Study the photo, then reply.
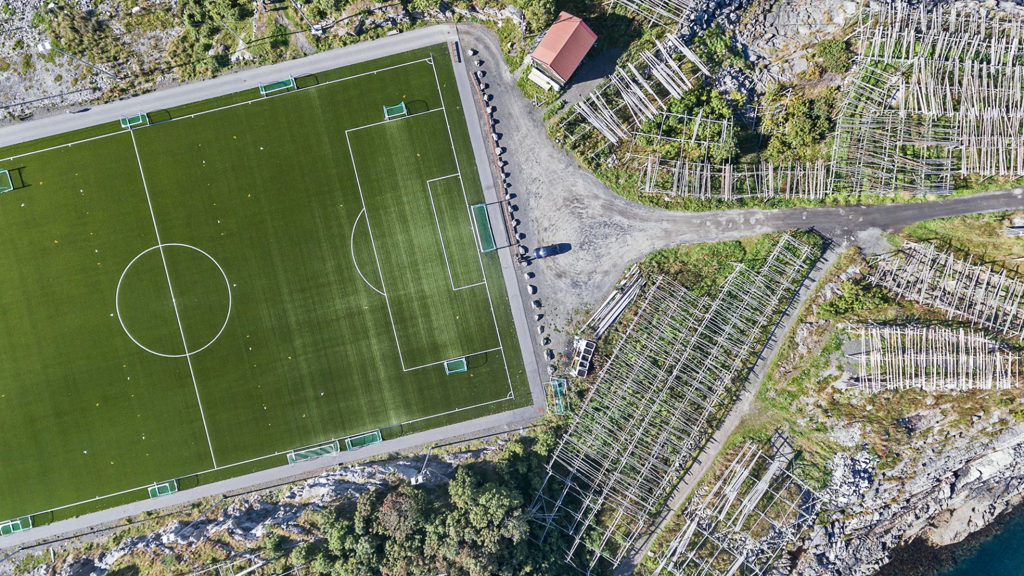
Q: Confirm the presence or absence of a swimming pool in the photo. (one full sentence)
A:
No, this view has no swimming pool in it.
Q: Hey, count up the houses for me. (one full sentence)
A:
The picture shows just 1 house.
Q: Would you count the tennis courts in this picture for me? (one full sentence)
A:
No tennis courts are visible.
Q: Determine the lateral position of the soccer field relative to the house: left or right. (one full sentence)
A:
Looking at the photo, the soccer field lies to the left of the house.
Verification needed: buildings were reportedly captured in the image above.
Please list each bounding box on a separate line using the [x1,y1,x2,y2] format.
[530,12,597,84]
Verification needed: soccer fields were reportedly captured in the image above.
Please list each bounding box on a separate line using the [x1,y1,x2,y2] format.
[0,43,534,535]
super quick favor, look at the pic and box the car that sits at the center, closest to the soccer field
[533,243,561,257]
